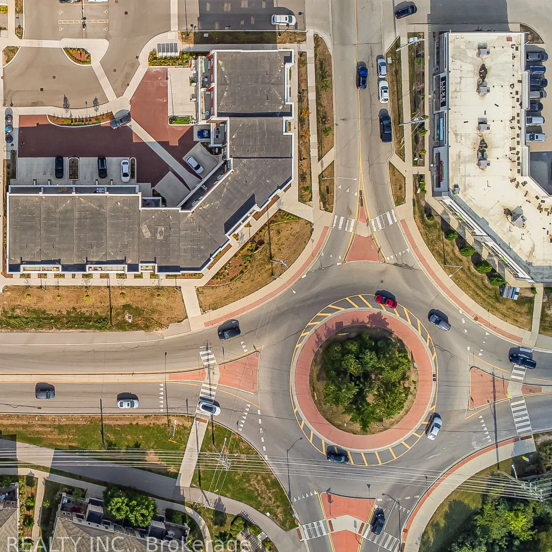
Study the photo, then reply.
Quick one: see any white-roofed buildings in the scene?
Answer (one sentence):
Yes, a white-roofed building can be made out from above.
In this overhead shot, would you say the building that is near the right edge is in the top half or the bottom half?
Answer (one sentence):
The top half of the photo is where the building that is near the right edge is.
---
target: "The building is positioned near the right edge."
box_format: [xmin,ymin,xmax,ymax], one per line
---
[432,34,552,283]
